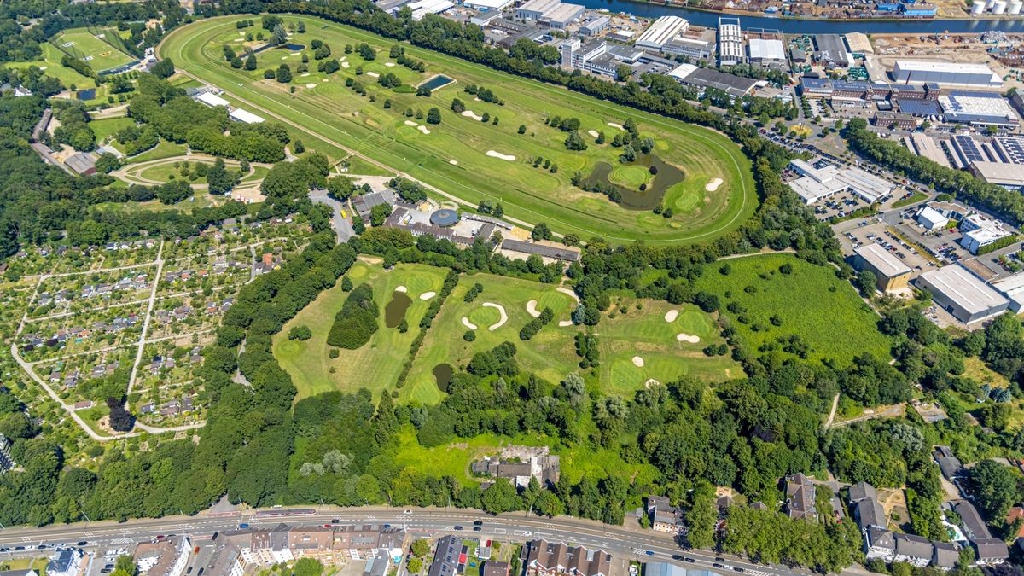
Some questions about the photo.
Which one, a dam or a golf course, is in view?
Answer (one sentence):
Of the two, only a golf course appears.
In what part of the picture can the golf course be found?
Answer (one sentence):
You can find the golf course in the center area of the picture.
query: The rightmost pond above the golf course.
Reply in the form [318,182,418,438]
[582,152,686,210]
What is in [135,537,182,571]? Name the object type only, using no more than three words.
house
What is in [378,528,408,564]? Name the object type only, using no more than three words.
house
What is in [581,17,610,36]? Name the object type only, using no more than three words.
building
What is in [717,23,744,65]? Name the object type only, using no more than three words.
building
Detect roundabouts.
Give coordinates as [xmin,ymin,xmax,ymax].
[775,119,827,143]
